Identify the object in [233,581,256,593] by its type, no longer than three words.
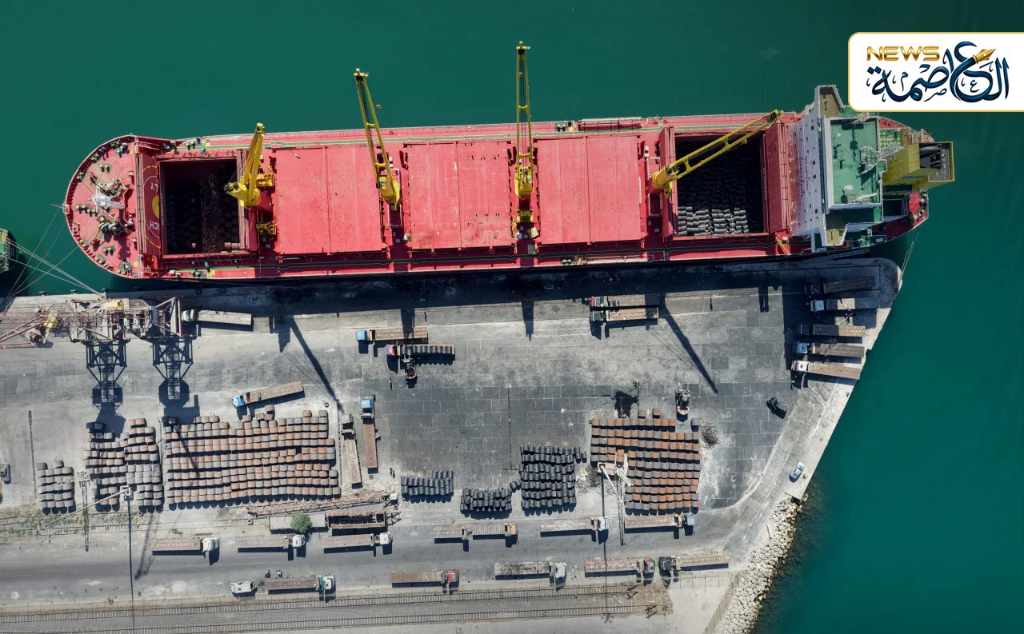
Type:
vehicle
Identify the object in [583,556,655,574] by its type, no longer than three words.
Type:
vehicle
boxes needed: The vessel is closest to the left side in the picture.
[0,232,28,271]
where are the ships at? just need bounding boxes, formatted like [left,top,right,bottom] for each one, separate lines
[49,41,952,283]
[0,232,28,271]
